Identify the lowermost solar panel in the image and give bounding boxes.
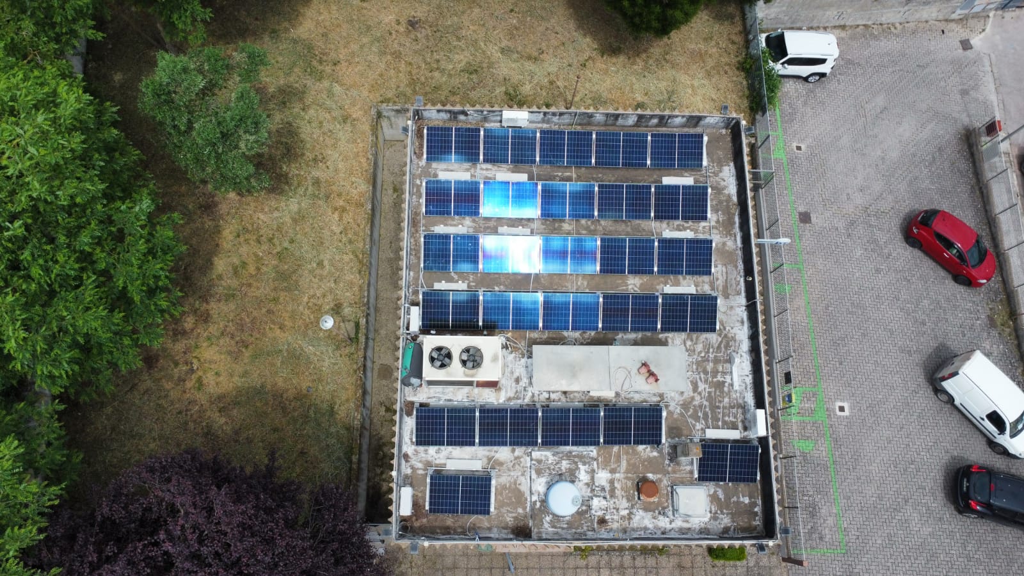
[428,475,493,515]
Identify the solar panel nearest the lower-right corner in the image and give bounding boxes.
[697,444,761,482]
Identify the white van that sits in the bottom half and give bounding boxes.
[932,353,1024,458]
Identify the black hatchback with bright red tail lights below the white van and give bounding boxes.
[954,467,1024,528]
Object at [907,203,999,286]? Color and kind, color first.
red car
